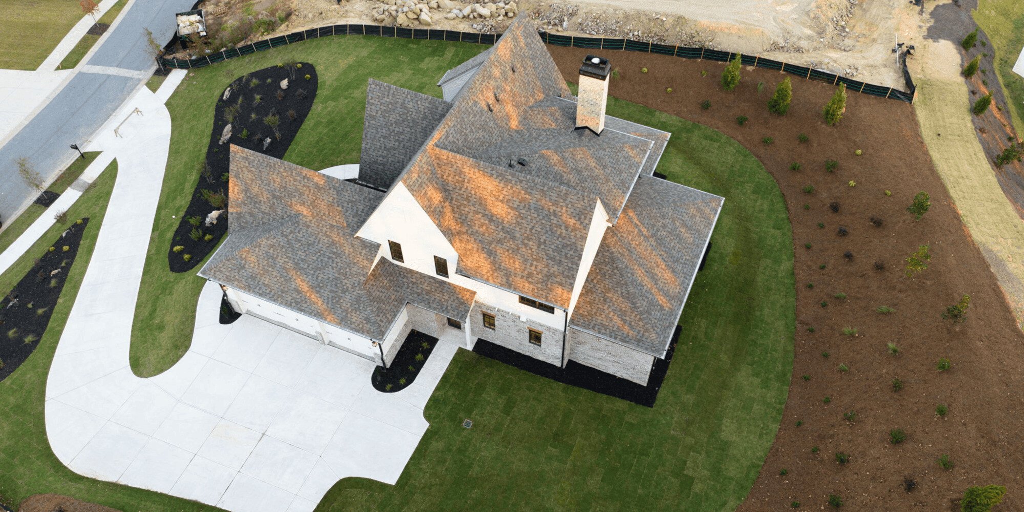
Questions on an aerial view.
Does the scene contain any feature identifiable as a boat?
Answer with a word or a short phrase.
No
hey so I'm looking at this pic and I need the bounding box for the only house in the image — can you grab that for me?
[194,11,726,386]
